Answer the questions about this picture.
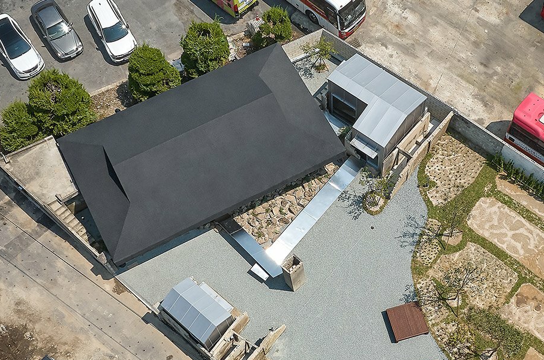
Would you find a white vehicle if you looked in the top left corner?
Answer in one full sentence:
Yes, a white vehicle appears in the top left corner.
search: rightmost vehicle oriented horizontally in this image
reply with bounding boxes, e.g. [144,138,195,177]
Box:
[290,0,363,31]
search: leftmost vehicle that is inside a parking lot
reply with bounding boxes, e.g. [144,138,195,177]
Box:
[0,9,43,82]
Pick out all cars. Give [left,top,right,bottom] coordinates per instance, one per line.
[27,0,81,63]
[0,9,43,82]
[86,0,135,63]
